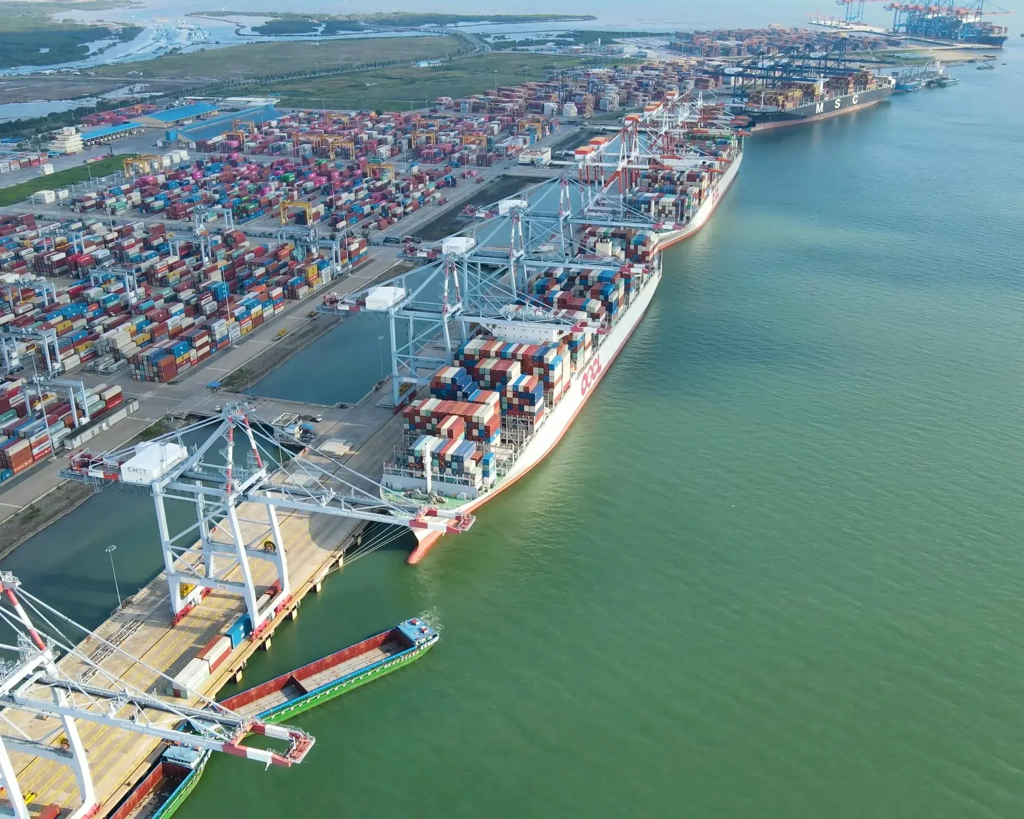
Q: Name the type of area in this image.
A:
port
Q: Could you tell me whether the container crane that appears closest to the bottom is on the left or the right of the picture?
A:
left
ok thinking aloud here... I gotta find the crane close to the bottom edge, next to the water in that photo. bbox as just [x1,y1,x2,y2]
[0,580,317,819]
